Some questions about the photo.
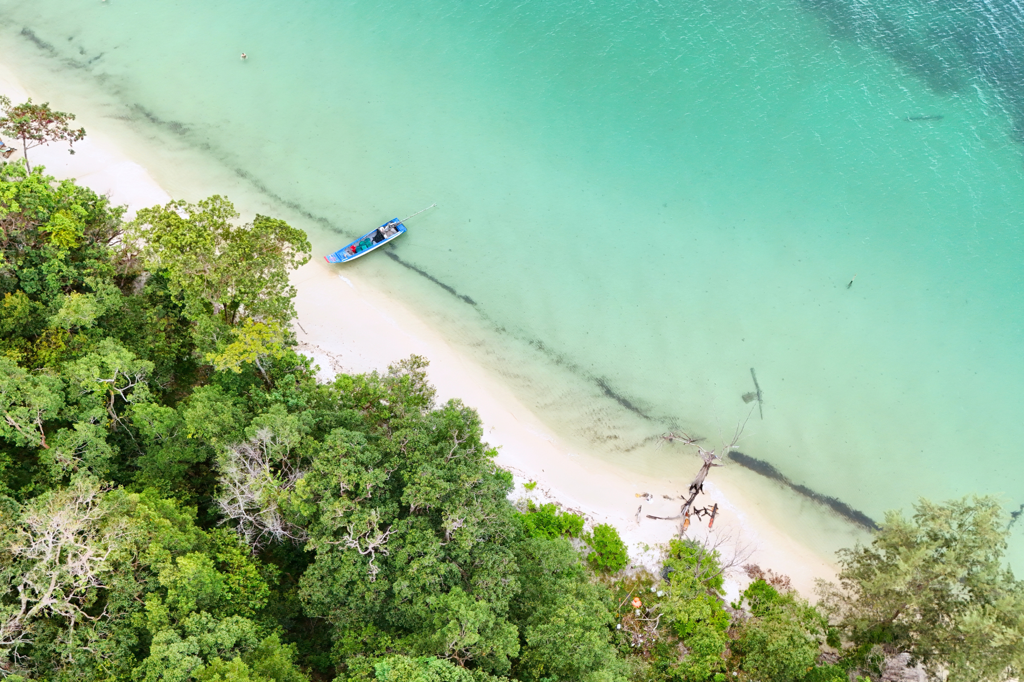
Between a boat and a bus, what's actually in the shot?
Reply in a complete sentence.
Of the two, only a boat appears.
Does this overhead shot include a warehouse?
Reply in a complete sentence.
No, there appears to be no warehouse in this shot.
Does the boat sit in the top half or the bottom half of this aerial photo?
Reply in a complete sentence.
The boat sits in the top half of the picture.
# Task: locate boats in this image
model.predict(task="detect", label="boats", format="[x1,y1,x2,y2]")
[322,202,437,264]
